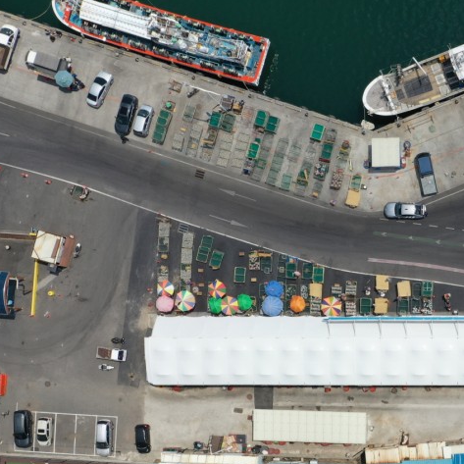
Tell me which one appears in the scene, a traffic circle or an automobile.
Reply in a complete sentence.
Looking from above, you can make out an automobile.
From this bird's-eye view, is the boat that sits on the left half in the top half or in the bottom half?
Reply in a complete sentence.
Seen from above, the boat that sits on the left half lies in the top half of the view.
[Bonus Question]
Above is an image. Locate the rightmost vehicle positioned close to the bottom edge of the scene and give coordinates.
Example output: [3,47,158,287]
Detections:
[133,423,152,452]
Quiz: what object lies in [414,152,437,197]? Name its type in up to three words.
truck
